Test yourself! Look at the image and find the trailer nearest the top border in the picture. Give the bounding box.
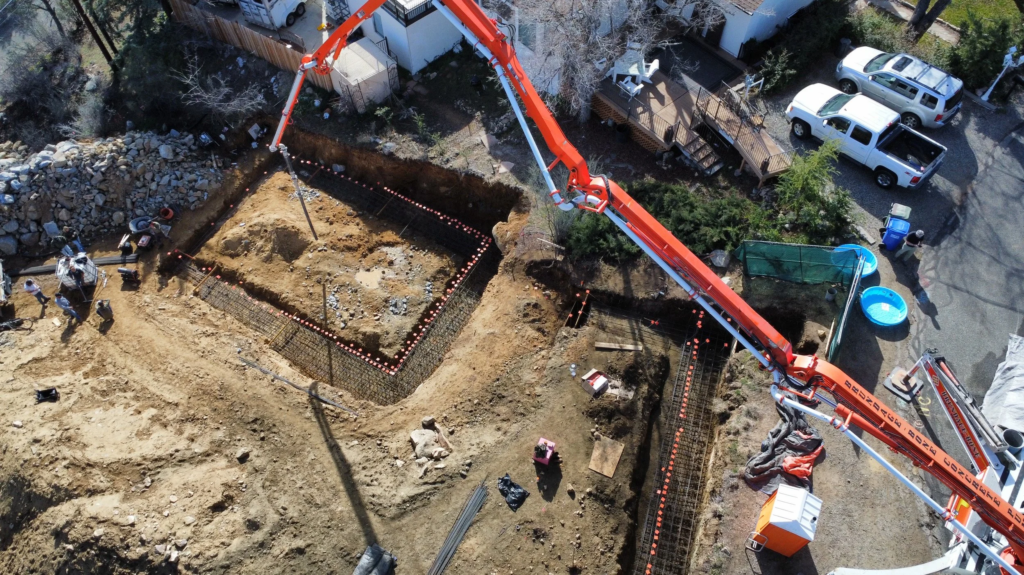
[238,0,308,29]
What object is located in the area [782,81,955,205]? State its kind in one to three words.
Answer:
truck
